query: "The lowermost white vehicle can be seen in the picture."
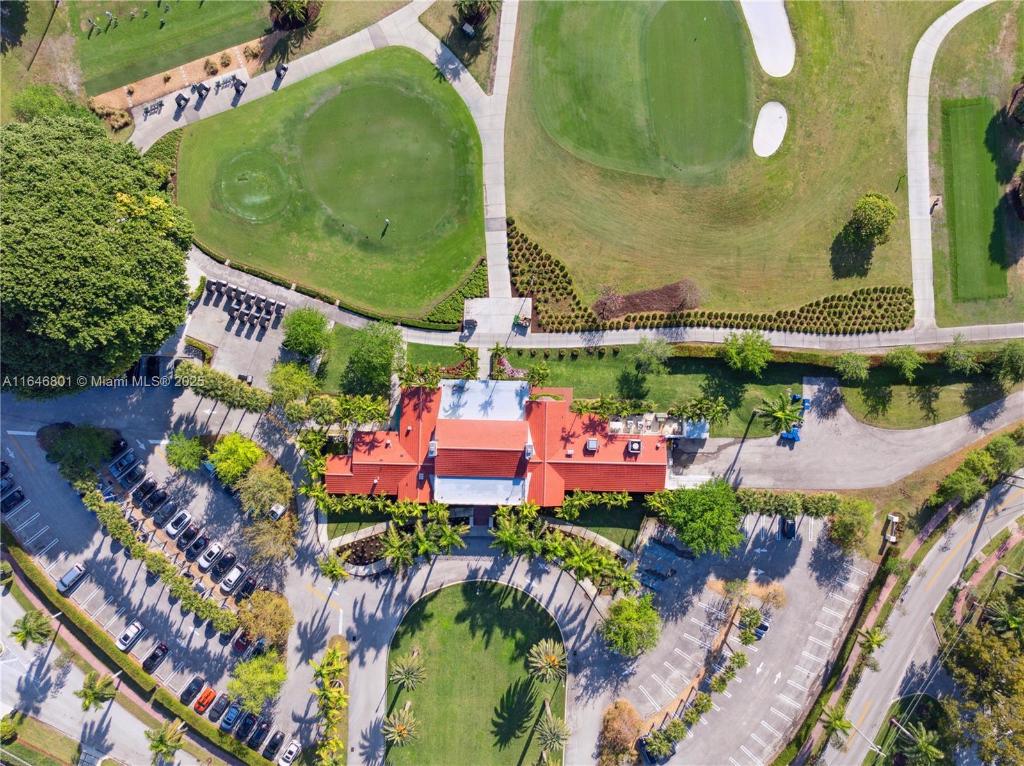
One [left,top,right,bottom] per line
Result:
[277,737,303,766]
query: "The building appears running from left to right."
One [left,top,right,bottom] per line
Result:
[325,380,708,507]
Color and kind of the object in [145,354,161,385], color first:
black car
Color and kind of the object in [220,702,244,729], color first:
blue car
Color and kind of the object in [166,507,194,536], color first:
white car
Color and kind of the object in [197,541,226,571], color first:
white car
